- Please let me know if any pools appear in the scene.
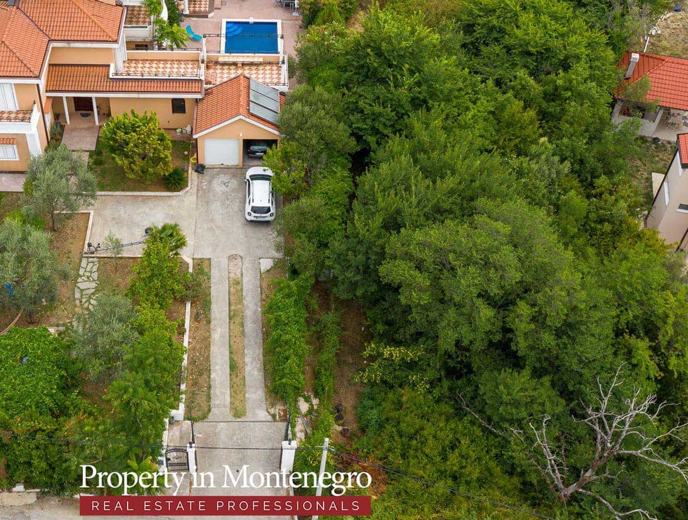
Yes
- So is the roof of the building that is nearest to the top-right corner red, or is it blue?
red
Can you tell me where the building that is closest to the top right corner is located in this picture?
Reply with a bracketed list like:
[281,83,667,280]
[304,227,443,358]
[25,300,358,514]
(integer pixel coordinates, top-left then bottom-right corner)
[618,50,688,142]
